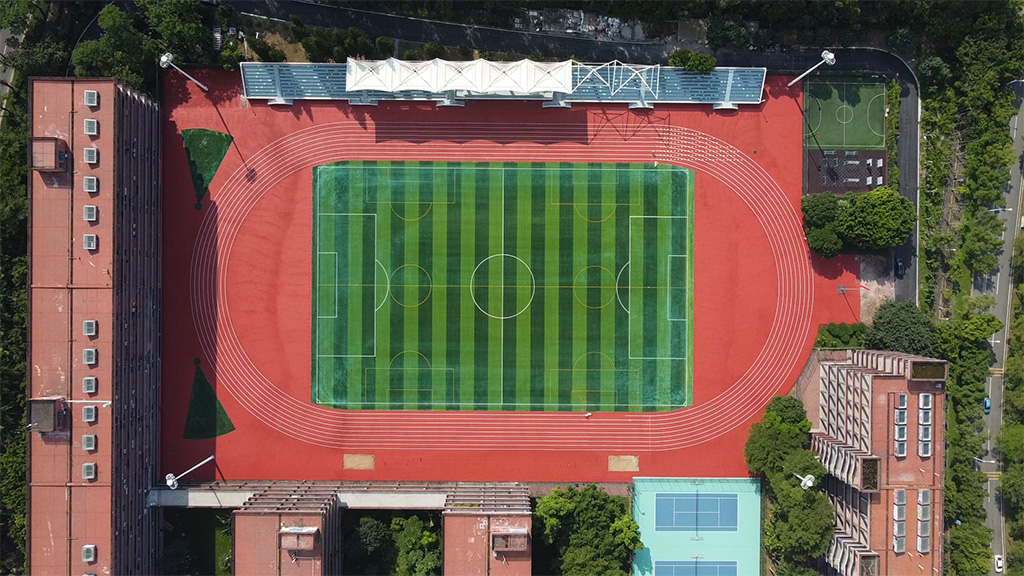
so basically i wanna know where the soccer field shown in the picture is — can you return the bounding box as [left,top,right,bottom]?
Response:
[311,161,694,413]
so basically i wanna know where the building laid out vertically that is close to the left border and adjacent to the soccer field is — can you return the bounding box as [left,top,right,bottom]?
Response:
[26,77,166,576]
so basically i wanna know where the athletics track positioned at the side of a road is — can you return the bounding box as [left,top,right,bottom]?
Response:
[190,122,815,451]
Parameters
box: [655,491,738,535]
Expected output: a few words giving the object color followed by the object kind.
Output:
blue tennis court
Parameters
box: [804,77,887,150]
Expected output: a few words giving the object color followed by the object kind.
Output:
green sports court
